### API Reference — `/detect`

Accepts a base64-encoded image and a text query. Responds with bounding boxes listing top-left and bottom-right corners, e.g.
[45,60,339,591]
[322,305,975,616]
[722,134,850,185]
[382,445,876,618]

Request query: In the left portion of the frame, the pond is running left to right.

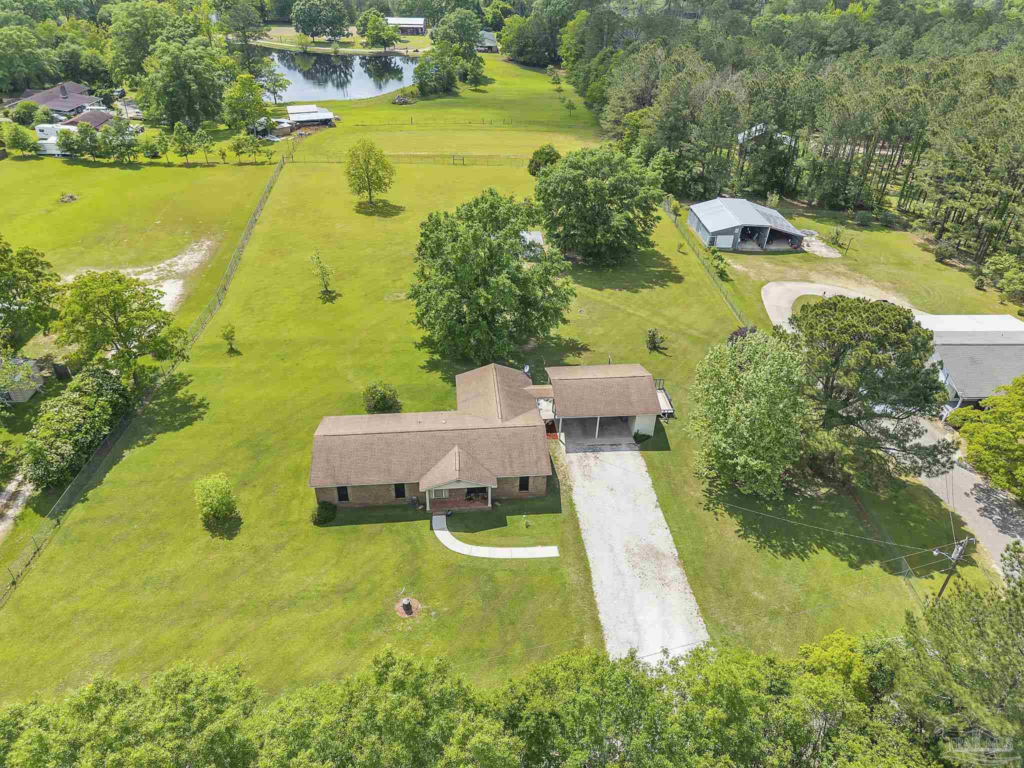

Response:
[230,42,424,101]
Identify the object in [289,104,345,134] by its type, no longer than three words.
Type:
shed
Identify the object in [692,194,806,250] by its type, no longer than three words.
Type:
barn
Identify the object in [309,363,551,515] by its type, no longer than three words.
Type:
house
